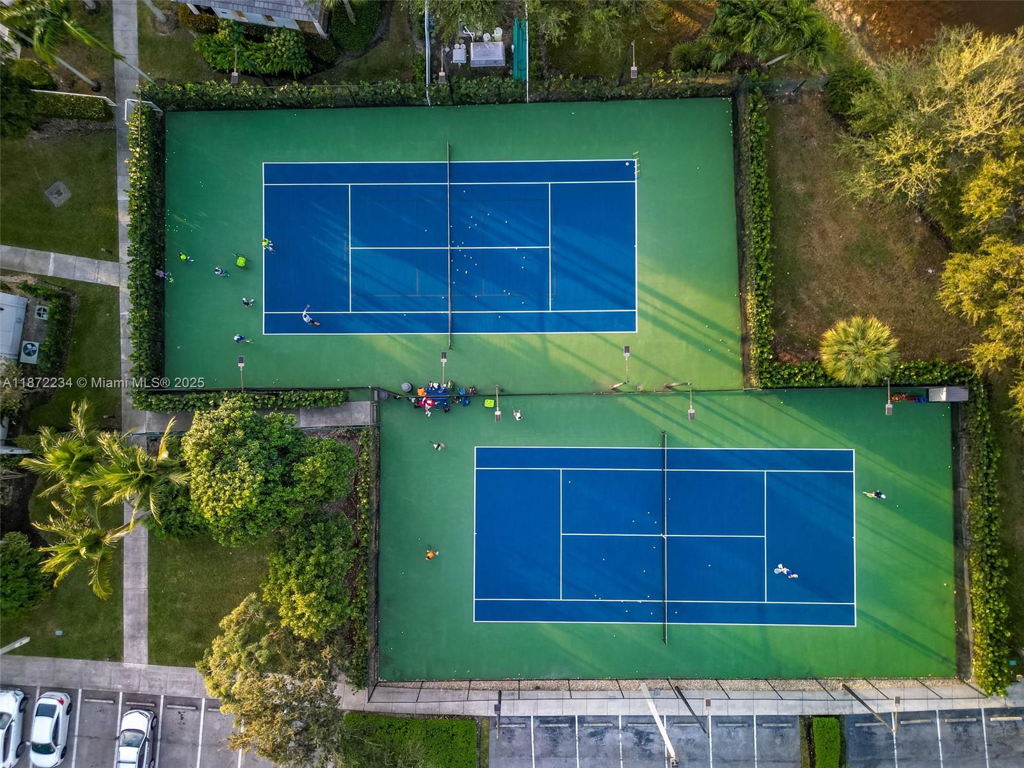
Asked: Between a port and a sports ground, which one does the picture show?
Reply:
sports ground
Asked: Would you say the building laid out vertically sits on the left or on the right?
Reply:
left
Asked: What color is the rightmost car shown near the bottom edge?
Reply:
white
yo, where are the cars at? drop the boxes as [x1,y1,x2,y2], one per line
[21,694,69,768]
[0,696,29,768]
[109,708,152,768]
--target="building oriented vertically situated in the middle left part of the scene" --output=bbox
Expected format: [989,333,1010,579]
[0,293,28,359]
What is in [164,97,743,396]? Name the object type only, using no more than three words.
tennis court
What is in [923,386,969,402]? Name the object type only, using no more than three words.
shed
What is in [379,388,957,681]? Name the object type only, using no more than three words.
tennis court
